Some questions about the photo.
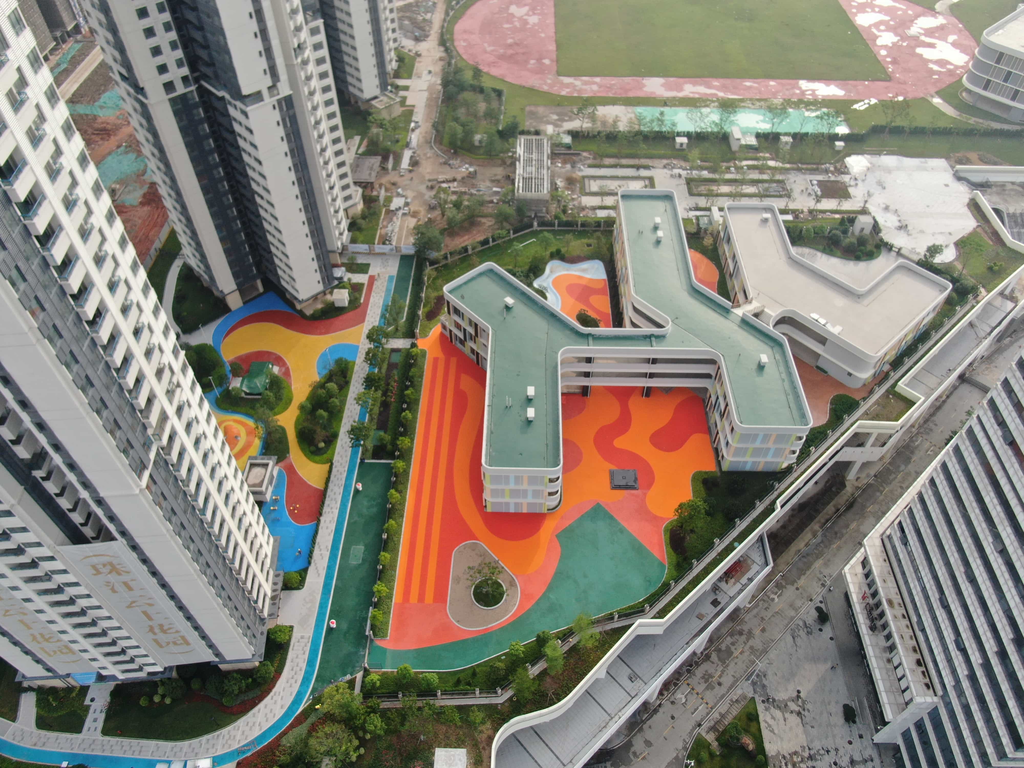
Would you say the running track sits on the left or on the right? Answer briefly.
right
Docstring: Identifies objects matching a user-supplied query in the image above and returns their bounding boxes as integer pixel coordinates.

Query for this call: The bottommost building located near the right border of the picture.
[841,321,1024,768]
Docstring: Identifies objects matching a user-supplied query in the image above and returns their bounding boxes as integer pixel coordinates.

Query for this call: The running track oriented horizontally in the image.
[454,0,977,100]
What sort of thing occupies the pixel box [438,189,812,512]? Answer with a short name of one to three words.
building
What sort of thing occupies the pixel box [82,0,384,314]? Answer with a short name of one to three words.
building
